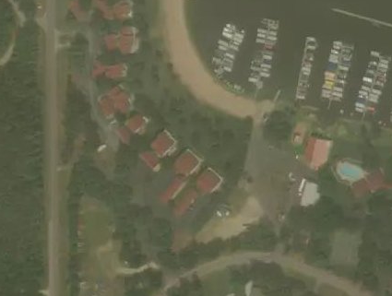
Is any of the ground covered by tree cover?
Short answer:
Yes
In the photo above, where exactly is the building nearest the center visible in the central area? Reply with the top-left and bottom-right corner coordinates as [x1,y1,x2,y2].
[174,149,201,176]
